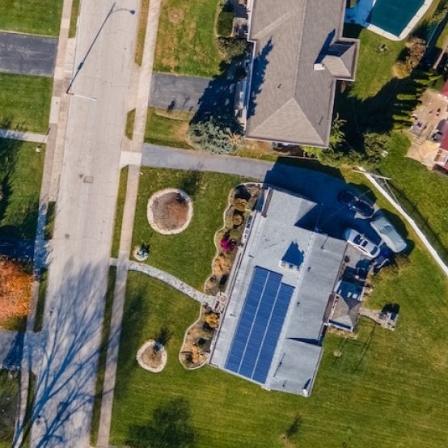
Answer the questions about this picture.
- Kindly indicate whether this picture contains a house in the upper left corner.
No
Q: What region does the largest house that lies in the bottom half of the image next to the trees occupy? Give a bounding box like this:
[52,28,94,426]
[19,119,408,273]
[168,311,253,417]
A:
[207,187,349,398]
